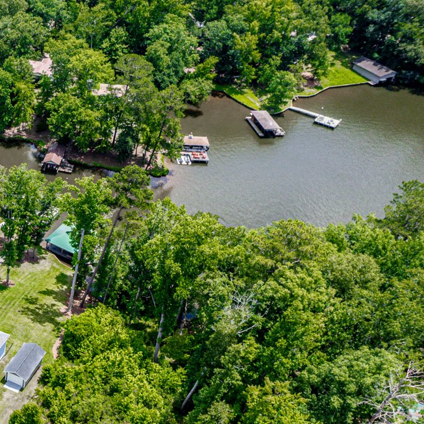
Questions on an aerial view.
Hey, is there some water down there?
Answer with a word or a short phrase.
Yes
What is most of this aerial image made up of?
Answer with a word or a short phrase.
trees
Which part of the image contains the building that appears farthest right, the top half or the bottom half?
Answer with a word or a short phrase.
top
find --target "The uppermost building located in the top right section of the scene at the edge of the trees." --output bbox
[353,54,412,86]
